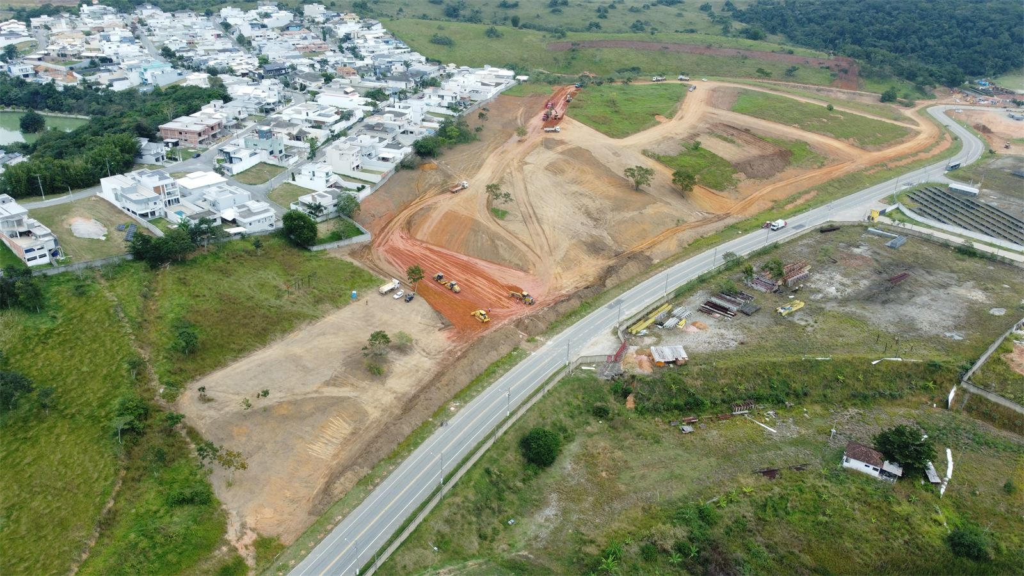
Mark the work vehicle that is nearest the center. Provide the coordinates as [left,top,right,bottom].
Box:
[508,291,535,306]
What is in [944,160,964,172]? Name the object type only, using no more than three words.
vehicle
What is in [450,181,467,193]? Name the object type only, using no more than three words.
vehicle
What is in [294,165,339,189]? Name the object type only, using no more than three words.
house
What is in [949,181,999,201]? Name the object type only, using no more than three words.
house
